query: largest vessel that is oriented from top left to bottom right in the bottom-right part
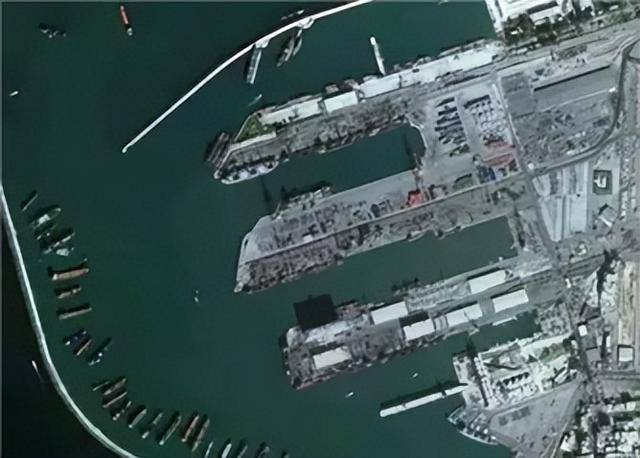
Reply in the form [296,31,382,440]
[449,412,501,445]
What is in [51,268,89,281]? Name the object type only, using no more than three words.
ship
